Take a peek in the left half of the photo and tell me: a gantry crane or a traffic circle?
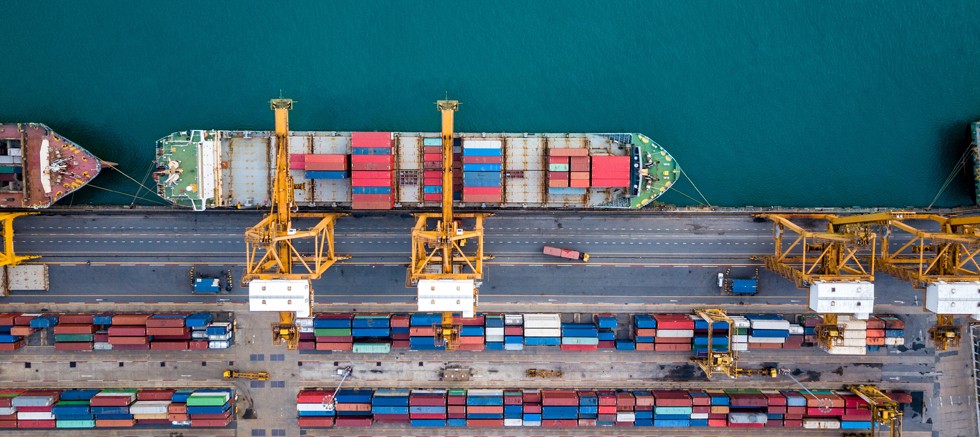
gantry crane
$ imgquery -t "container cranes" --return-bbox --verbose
[845,384,902,437]
[871,214,980,353]
[241,89,345,352]
[760,207,920,353]
[0,213,37,268]
[407,97,495,352]
[695,310,738,381]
